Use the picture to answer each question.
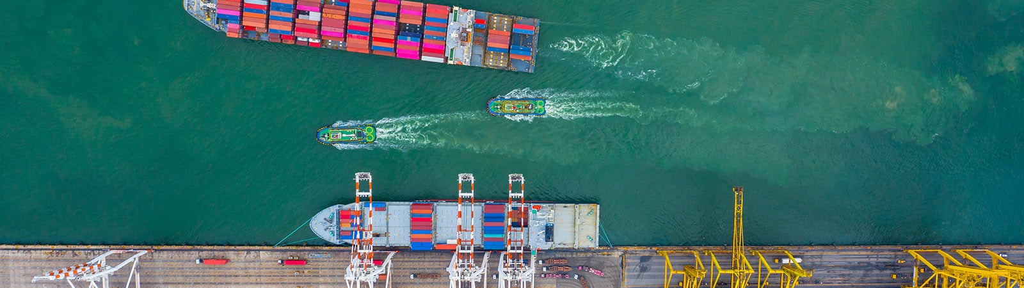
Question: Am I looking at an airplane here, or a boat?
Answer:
boat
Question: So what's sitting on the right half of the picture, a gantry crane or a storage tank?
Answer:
gantry crane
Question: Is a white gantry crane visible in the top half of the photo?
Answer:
No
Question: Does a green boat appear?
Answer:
Yes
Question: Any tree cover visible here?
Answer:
No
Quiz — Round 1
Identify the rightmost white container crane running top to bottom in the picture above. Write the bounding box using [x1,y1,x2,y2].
[497,174,538,288]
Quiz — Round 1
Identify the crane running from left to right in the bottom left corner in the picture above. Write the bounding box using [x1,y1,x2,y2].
[36,251,155,288]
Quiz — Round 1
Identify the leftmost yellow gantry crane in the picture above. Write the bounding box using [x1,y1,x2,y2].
[655,251,709,288]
